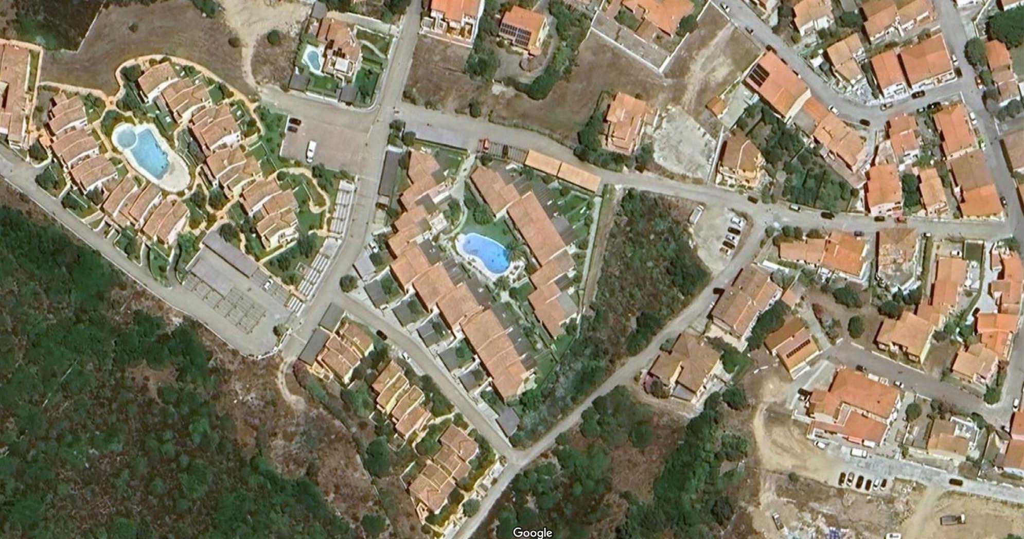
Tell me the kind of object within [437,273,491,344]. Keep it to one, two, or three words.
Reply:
house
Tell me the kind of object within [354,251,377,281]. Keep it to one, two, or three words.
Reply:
building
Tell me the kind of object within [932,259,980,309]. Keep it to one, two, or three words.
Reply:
house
